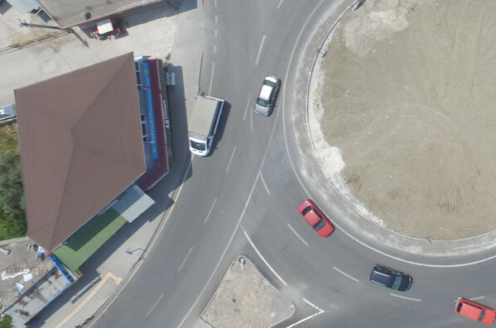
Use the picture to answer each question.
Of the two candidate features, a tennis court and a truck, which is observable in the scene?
truck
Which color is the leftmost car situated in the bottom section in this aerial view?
red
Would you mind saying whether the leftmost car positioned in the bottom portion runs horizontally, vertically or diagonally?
diagonally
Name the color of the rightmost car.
red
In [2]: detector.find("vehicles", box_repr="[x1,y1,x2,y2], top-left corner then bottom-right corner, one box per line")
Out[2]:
[370,265,414,292]
[453,297,496,325]
[256,74,282,117]
[192,95,226,155]
[90,19,123,38]
[297,199,336,238]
